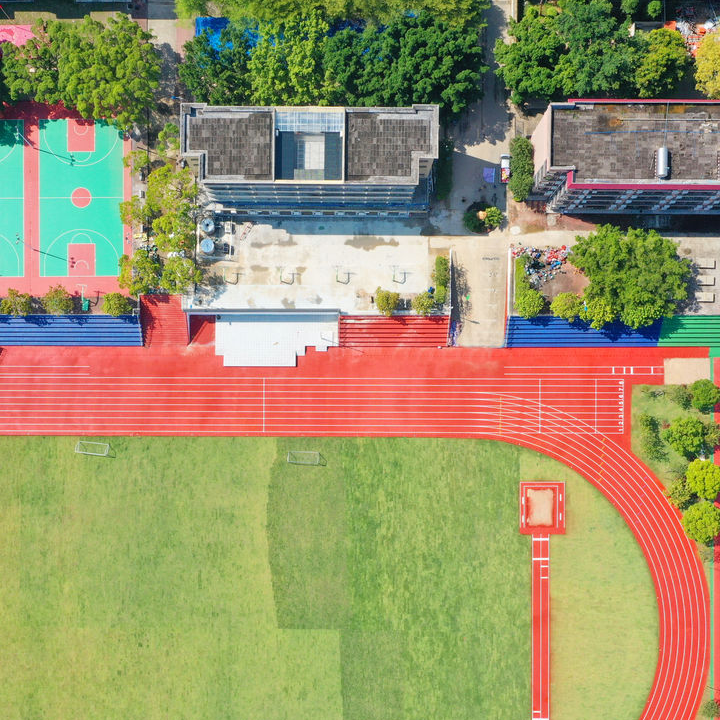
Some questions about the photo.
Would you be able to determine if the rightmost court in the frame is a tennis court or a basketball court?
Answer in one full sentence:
The rightmost court appears to be a basketball court.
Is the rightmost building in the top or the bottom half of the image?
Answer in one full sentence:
You can find the rightmost building in the top half.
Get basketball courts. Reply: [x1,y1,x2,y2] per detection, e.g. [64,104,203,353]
[0,119,24,277]
[39,119,124,277]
